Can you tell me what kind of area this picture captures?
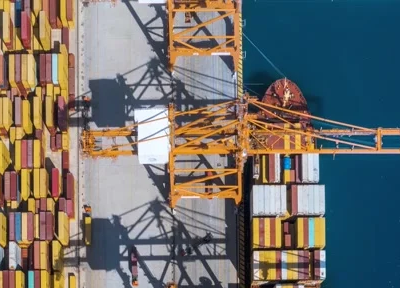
port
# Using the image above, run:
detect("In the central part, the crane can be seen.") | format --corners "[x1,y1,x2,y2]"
[79,86,400,214]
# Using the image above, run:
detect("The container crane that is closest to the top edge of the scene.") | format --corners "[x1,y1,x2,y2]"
[134,0,249,77]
